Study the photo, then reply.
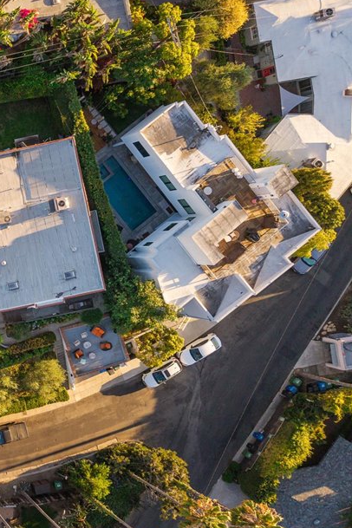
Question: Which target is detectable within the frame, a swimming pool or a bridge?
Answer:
swimming pool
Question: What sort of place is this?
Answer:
residential area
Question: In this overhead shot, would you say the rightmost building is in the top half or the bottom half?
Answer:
bottom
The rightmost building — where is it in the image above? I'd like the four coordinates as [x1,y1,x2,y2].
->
[310,332,352,373]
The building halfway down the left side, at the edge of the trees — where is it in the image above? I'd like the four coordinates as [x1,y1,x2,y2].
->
[0,136,106,310]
